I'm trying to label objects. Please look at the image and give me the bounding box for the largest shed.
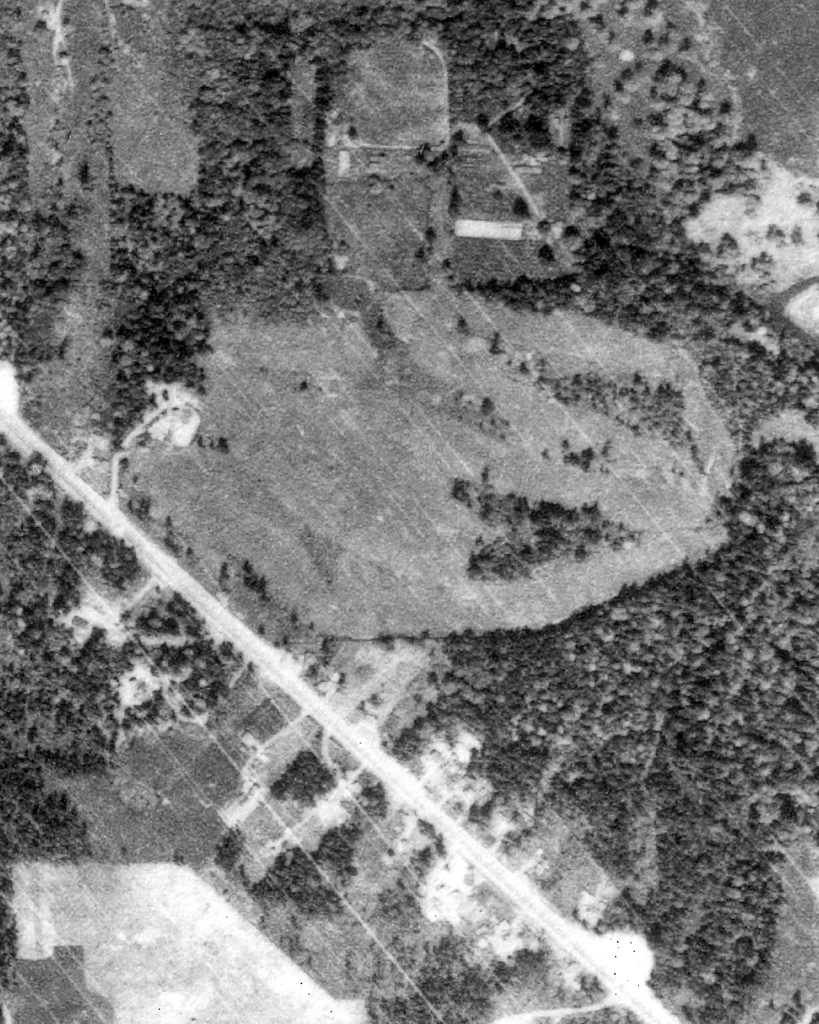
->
[456,219,522,240]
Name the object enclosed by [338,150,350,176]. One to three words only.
barn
